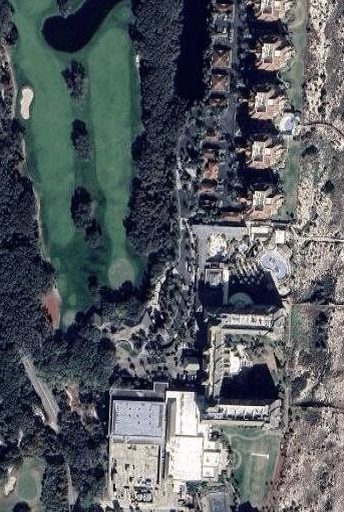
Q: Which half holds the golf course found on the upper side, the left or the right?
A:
left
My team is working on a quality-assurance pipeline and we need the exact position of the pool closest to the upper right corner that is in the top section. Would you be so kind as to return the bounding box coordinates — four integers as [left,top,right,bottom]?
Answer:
[280,110,298,133]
